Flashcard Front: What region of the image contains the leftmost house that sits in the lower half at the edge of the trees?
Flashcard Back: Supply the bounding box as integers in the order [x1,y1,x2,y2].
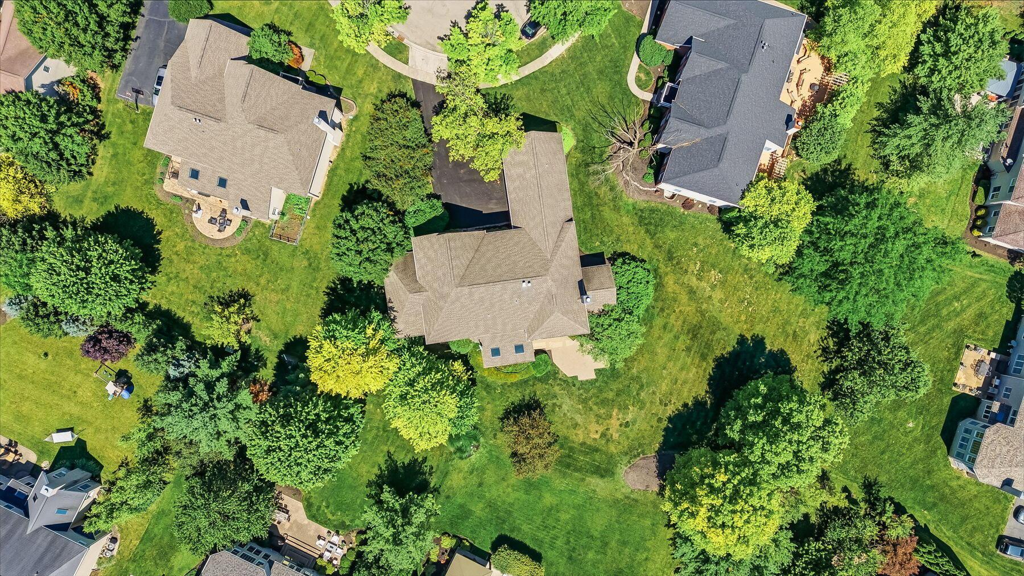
[0,458,113,576]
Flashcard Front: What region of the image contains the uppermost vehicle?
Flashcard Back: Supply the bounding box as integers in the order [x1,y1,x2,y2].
[519,10,544,47]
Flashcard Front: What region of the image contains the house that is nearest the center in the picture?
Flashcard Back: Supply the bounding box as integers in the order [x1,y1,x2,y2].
[385,131,617,368]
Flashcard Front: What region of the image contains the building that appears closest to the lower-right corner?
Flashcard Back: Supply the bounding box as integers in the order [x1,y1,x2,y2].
[947,321,1024,507]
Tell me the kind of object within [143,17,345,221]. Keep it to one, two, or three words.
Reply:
house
